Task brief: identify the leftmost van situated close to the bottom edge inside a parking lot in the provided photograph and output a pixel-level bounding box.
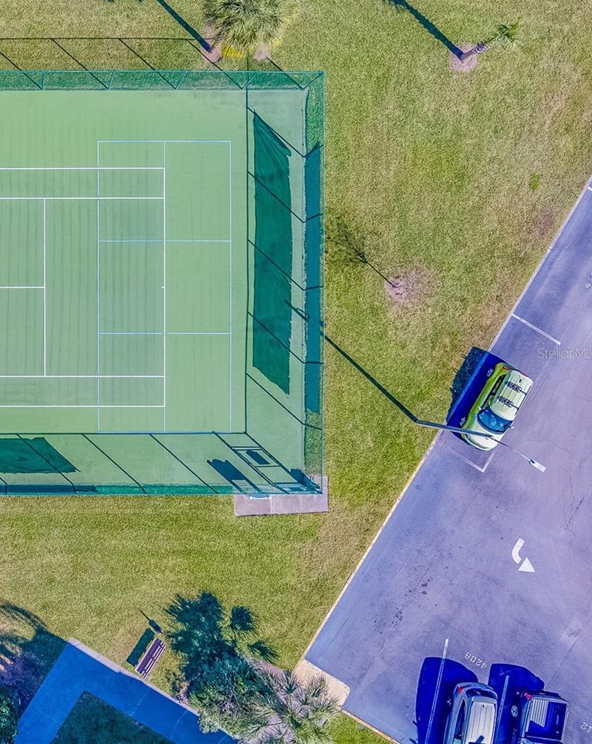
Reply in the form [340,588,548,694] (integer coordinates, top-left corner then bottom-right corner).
[441,681,503,744]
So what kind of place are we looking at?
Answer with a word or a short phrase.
sports ground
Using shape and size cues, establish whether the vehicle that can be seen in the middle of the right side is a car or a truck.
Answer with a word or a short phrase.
car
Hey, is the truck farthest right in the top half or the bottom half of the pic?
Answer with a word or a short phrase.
bottom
